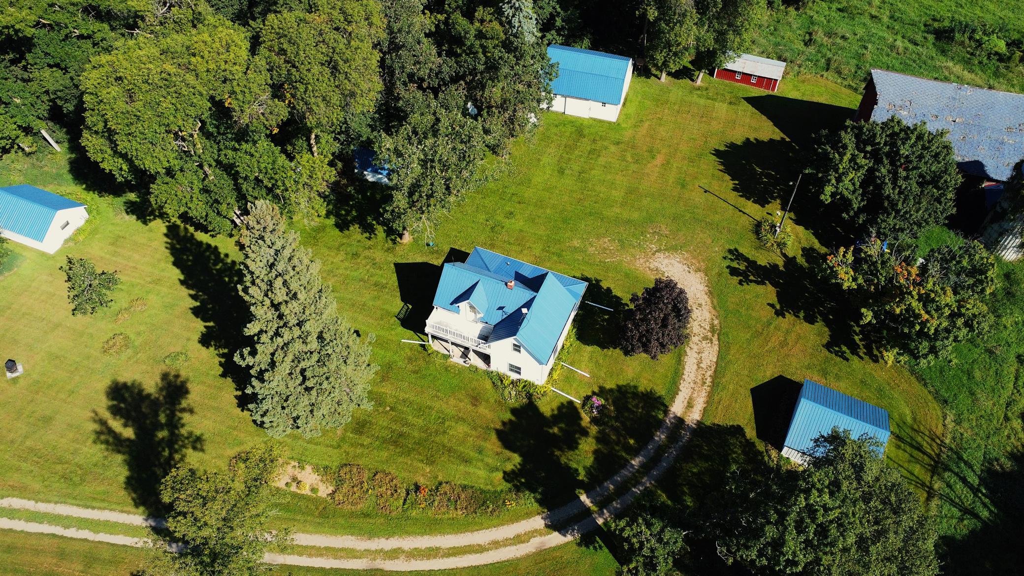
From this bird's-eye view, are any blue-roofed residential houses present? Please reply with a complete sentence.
Yes, this view includes a blue-roofed residential house.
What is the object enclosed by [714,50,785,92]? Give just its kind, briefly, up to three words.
shed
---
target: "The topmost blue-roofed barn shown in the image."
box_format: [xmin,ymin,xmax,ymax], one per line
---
[538,44,632,123]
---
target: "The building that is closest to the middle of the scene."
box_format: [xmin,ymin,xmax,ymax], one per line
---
[423,246,590,384]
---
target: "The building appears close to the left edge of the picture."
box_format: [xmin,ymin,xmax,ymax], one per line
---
[0,184,89,253]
